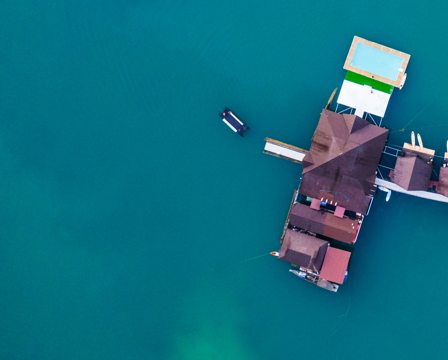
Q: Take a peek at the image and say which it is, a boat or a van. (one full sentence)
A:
It is a boat that can be seen here.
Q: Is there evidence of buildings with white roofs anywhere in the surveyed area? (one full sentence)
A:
No, I find no building with a white roof anywhere in the image.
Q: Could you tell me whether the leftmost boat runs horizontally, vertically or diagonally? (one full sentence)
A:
I'd say the leftmost boat is aligned diagonally in the picture.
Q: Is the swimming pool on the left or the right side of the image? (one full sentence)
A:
The swimming pool is on the right side of the image.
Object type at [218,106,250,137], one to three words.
boat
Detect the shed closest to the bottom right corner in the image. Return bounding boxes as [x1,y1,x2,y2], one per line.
[320,246,351,284]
